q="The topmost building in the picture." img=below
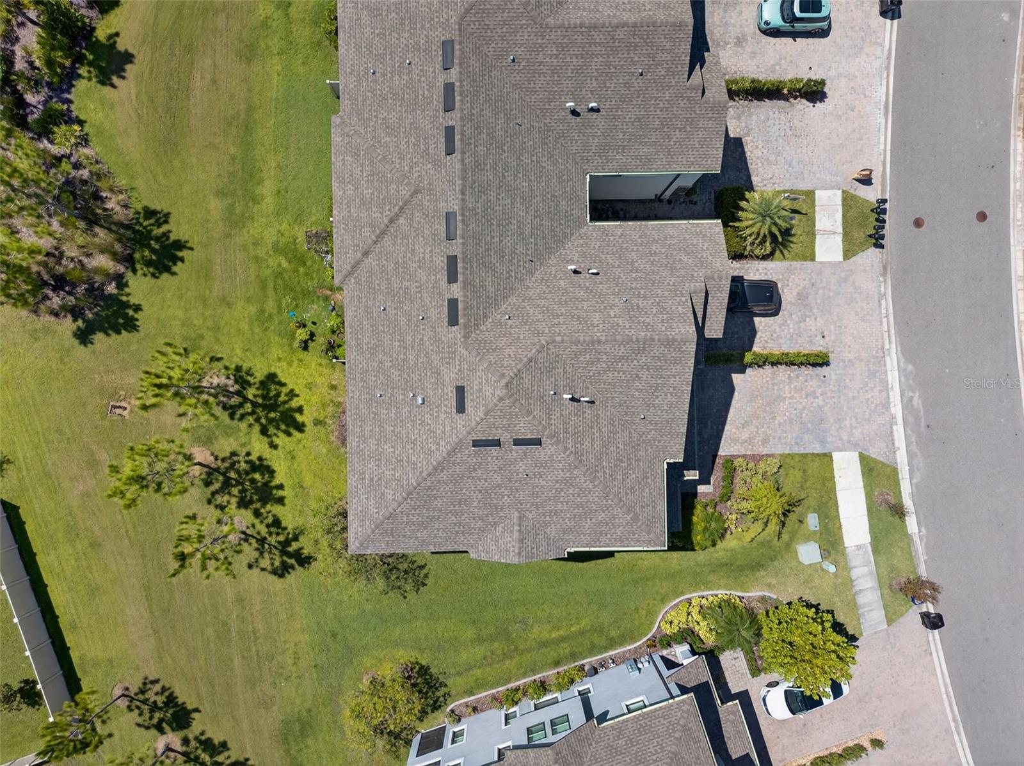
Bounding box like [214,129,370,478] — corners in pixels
[331,0,728,565]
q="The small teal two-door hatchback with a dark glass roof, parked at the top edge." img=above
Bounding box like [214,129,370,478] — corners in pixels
[756,0,833,35]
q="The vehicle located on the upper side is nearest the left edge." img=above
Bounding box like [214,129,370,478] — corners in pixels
[723,278,782,319]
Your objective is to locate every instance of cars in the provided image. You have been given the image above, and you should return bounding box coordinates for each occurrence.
[756,0,833,35]
[723,278,782,319]
[758,665,853,717]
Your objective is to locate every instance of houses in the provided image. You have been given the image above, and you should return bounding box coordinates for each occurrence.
[410,639,762,766]
[331,0,728,565]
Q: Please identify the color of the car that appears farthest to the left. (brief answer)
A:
black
